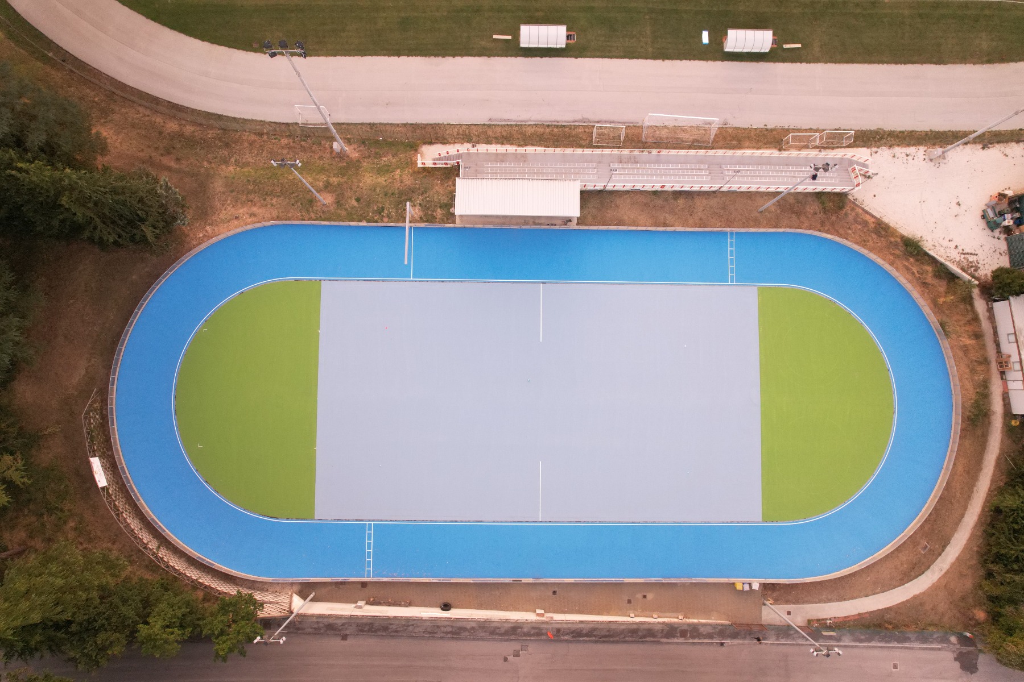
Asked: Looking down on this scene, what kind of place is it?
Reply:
sports ground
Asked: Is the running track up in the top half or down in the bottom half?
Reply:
top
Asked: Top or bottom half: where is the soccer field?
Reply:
top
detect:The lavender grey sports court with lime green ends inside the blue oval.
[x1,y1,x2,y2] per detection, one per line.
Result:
[175,282,894,521]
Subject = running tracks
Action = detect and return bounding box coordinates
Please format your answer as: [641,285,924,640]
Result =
[9,0,1024,132]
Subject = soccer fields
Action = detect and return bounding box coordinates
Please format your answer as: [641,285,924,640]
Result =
[118,0,1024,65]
